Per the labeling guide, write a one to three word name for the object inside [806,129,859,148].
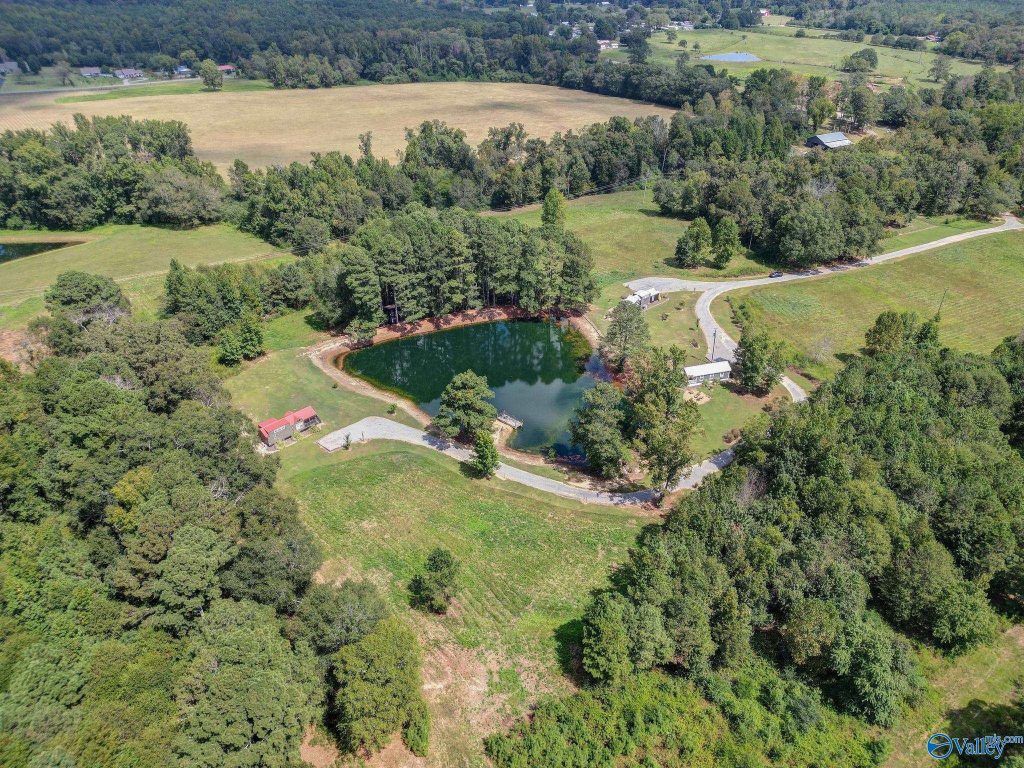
barn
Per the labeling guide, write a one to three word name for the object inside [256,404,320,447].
building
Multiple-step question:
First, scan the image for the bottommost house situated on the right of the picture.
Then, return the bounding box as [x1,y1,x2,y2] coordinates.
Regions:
[683,360,733,385]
